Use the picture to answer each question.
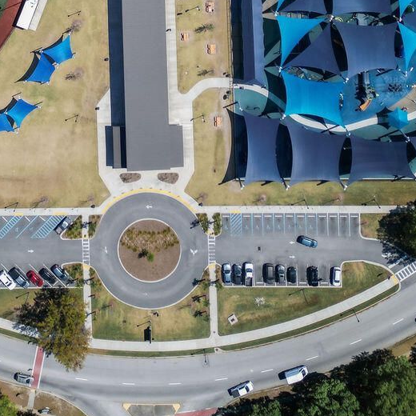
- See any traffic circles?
Yes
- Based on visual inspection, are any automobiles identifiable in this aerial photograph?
Yes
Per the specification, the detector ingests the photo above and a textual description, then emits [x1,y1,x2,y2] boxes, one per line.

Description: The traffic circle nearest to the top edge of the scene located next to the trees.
[91,198,207,311]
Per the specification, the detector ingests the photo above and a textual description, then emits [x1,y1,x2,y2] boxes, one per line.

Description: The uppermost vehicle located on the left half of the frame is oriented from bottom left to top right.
[52,212,75,237]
